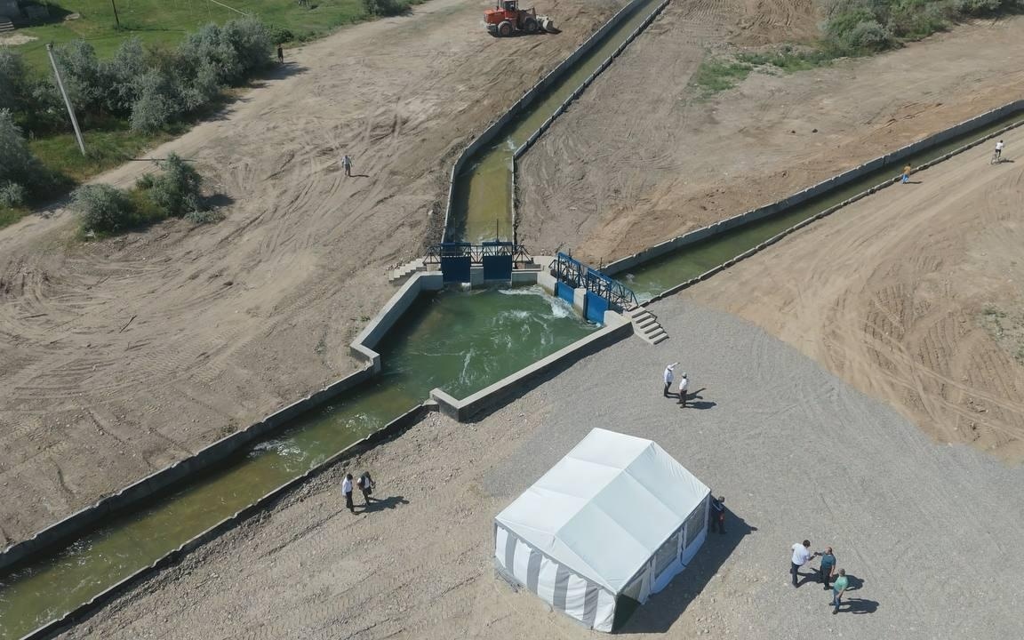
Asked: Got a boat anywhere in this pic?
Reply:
No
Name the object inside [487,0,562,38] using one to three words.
work vehicle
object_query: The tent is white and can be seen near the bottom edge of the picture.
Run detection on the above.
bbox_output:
[491,434,710,635]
